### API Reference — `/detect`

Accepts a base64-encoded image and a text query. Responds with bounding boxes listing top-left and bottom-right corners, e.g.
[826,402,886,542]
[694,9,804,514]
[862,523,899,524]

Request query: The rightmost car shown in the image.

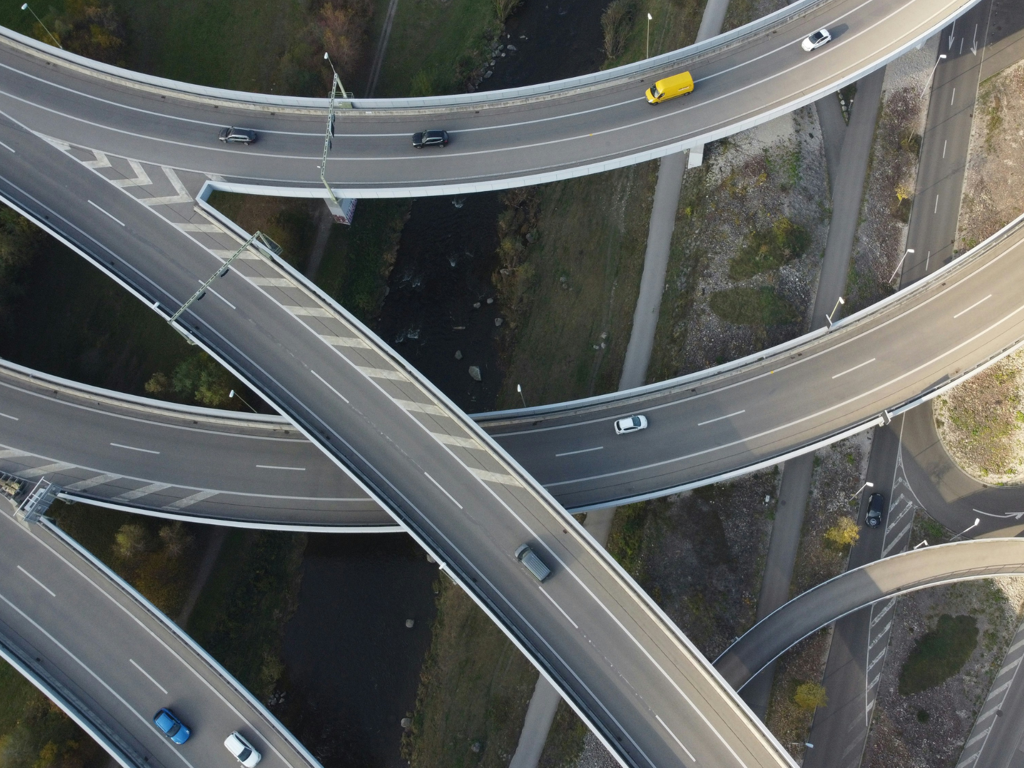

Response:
[866,493,884,528]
